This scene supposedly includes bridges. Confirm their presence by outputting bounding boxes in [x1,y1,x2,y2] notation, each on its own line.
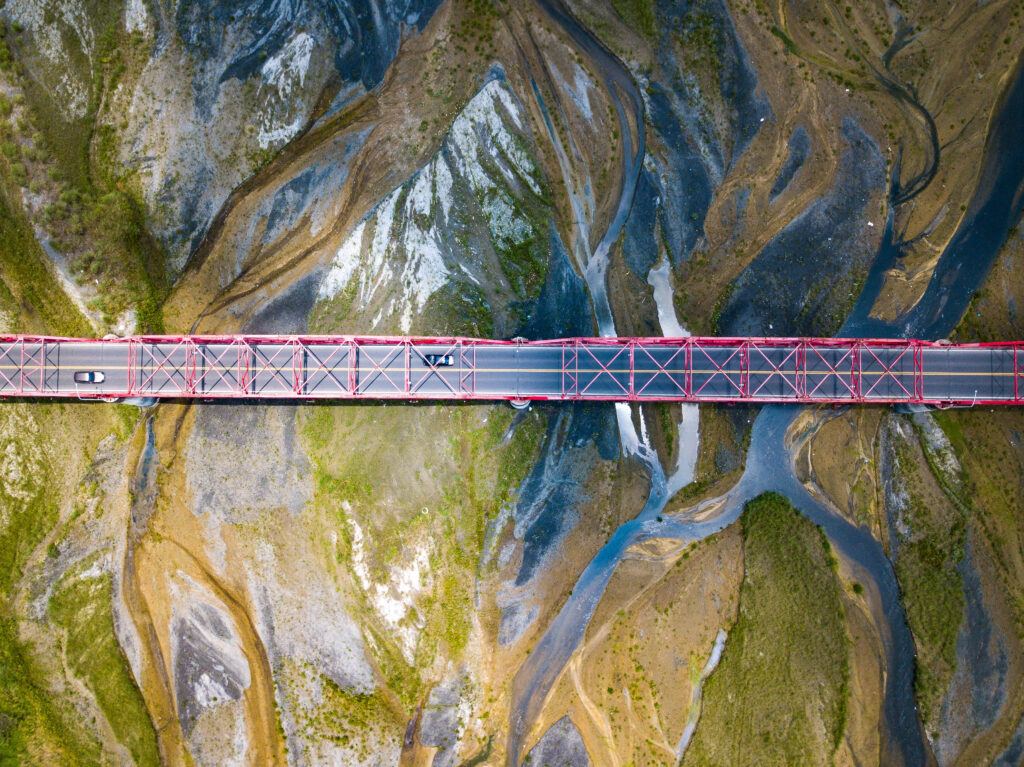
[0,333,1024,414]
